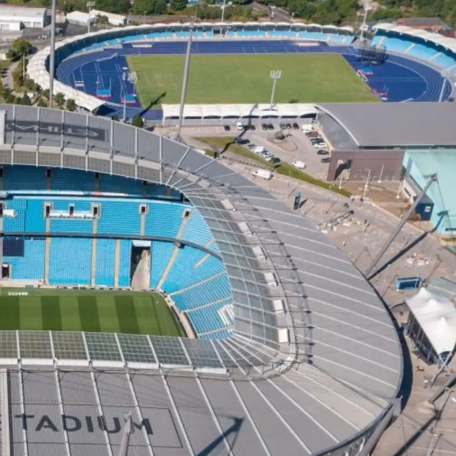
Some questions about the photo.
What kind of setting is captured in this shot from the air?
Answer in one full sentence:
This image shows a sports ground.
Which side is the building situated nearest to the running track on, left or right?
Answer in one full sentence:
The building situated nearest to the running track sits on the right side.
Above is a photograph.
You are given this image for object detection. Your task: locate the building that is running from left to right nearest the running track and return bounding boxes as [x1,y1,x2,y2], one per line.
[312,100,456,148]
